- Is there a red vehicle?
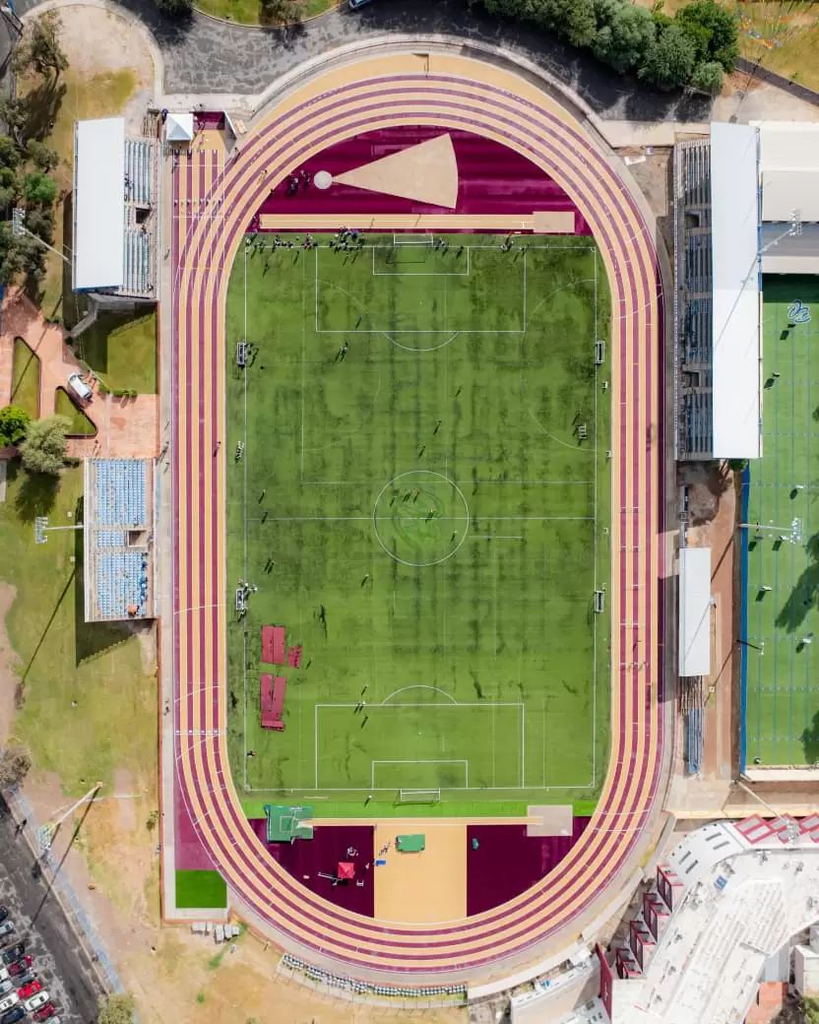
Yes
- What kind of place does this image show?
sports ground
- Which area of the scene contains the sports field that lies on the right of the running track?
right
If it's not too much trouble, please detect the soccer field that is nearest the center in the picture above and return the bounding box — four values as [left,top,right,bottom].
[227,236,610,817]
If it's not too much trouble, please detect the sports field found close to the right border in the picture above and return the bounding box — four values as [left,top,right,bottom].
[740,279,819,774]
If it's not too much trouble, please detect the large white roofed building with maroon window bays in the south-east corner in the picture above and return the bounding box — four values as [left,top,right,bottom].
[597,811,819,1024]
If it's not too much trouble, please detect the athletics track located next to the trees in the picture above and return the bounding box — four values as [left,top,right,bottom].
[173,55,665,974]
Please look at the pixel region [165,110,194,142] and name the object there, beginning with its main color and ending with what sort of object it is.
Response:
white tent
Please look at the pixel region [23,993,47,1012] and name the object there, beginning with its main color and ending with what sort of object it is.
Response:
white car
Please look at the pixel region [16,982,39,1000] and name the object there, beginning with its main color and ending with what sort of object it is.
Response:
red car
